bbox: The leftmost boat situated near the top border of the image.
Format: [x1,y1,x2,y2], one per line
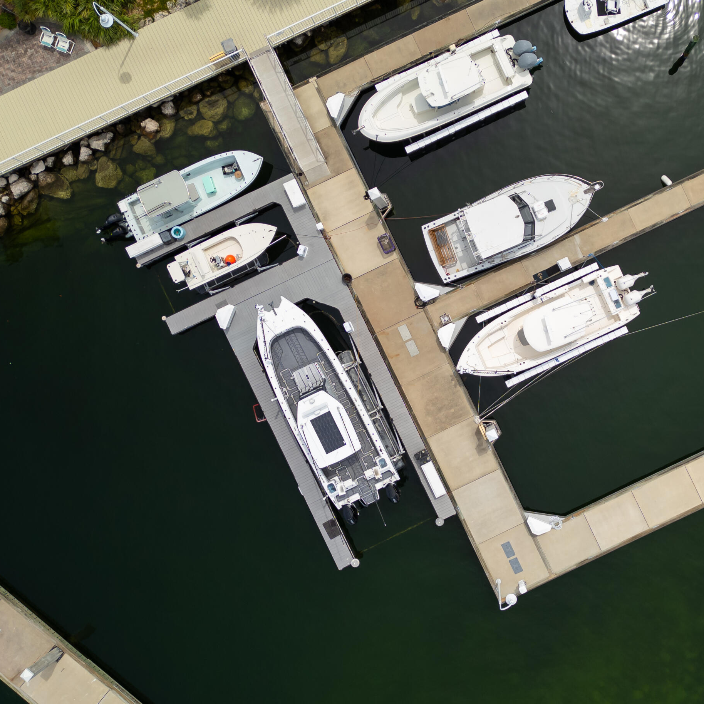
[352,35,546,142]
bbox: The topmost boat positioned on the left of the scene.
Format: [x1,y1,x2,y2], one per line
[95,150,263,244]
